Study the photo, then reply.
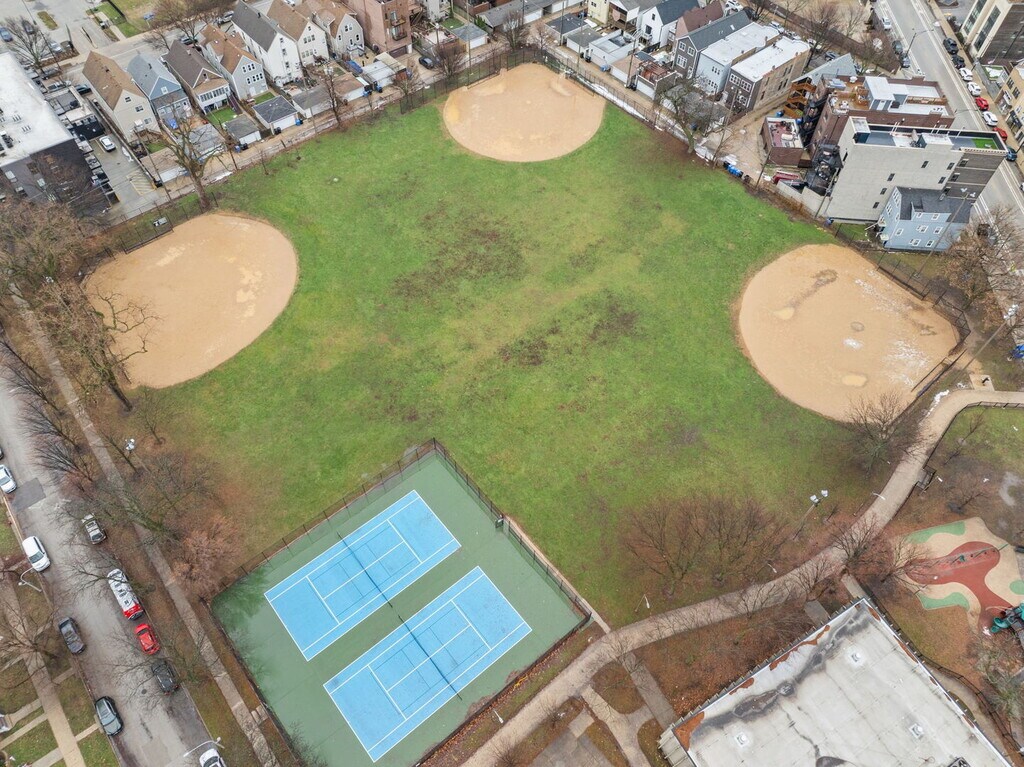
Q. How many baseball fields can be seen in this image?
3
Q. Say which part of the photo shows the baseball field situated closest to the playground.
right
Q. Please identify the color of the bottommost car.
white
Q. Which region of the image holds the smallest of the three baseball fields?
top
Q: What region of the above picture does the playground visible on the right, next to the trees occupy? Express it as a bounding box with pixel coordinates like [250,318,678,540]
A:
[896,517,1024,643]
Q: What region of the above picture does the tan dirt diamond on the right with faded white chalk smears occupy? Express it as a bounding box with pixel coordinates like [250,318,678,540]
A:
[735,240,962,426]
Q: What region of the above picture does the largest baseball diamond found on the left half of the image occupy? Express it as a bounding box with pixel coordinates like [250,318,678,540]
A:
[86,208,303,392]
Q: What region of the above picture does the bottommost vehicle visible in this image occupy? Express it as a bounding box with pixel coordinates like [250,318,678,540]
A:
[197,742,225,767]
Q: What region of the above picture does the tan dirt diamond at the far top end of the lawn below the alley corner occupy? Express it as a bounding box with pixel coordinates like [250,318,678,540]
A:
[440,60,610,165]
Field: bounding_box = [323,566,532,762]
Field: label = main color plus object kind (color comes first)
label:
blue tennis court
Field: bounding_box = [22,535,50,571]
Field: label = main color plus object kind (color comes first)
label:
white car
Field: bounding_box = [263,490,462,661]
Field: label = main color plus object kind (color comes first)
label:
blue tennis court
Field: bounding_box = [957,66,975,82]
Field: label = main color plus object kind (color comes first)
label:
white car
